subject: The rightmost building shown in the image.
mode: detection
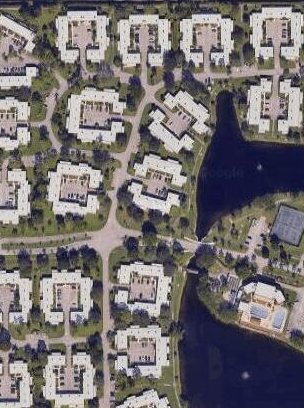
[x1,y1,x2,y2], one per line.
[280,80,304,132]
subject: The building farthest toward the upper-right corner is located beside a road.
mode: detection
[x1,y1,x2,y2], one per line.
[250,7,304,62]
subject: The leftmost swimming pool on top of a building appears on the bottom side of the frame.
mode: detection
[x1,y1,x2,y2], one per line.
[249,305,270,319]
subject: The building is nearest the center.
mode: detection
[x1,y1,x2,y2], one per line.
[129,182,181,214]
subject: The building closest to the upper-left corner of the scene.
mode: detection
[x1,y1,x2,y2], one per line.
[0,13,36,51]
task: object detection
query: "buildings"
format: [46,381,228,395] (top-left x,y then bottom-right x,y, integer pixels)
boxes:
[162,90,210,134]
[248,80,273,132]
[40,271,94,326]
[0,13,36,51]
[69,89,124,143]
[118,14,171,69]
[0,361,33,408]
[280,80,304,132]
[57,11,109,65]
[134,153,185,186]
[115,264,169,317]
[129,182,181,214]
[0,169,30,224]
[181,14,234,69]
[0,271,32,326]
[0,68,35,90]
[237,281,288,335]
[114,388,169,408]
[115,326,169,379]
[49,162,104,216]
[250,7,304,62]
[43,351,96,406]
[149,108,195,153]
